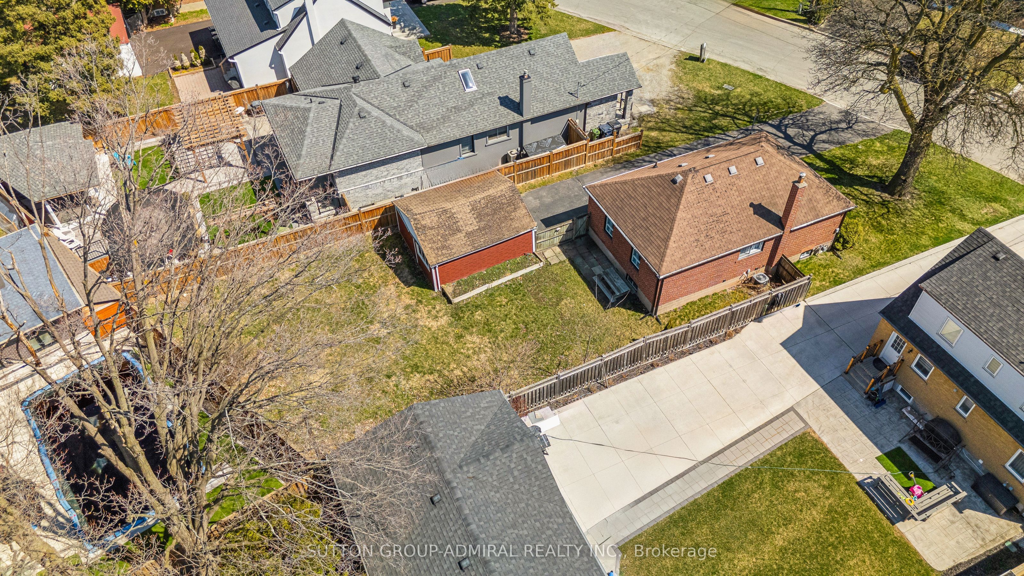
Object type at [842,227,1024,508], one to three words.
house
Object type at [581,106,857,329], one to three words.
house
